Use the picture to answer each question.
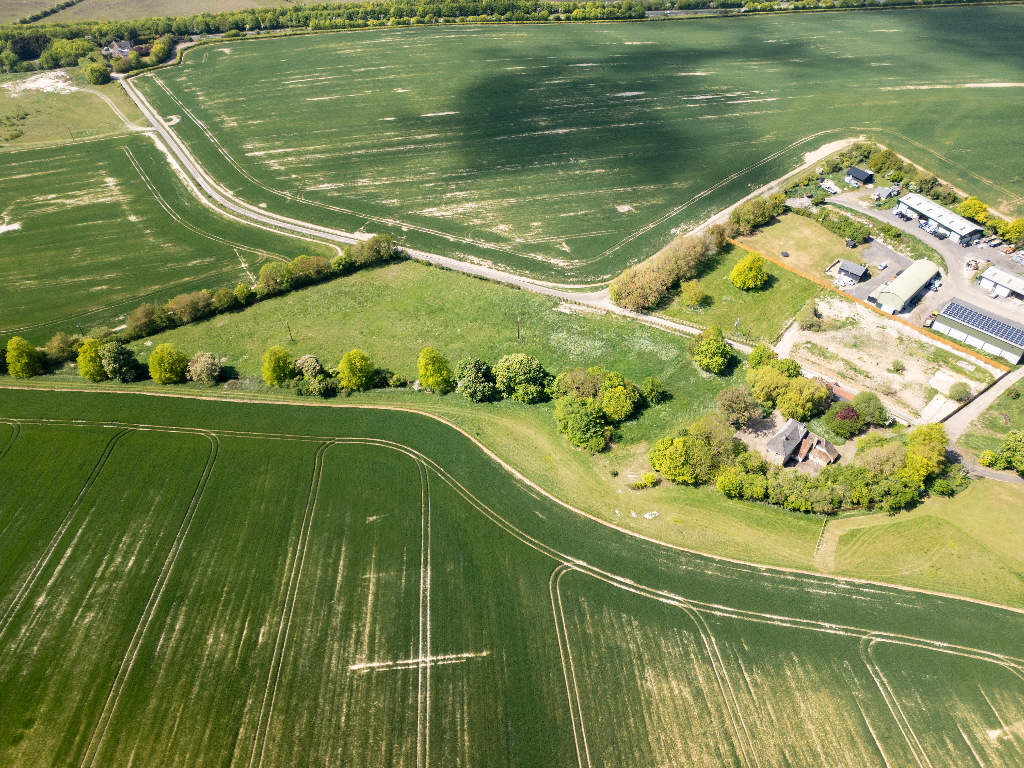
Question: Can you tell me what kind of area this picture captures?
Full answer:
The area seen from above is farmland.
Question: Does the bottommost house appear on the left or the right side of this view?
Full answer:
The bottommost house sits on the right side.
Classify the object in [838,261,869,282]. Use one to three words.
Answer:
building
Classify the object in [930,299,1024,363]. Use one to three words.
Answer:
barn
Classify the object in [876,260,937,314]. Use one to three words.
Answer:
barn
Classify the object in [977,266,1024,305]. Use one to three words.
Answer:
shed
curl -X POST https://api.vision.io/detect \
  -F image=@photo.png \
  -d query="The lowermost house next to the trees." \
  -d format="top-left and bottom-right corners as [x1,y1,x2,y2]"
[763,419,844,468]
